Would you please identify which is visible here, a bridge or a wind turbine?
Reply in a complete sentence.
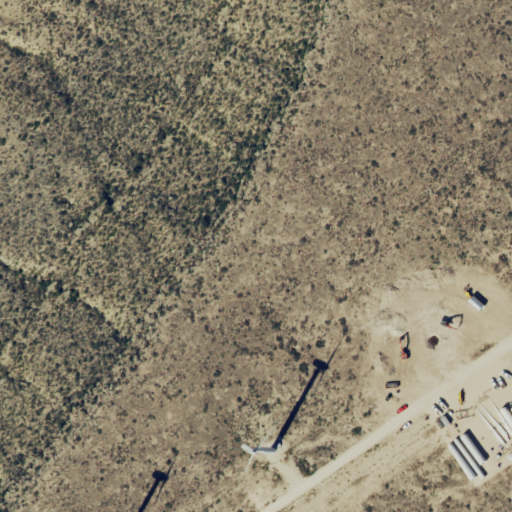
I can see a wind turbine in this picture.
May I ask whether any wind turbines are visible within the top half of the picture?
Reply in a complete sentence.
No, the scene shows no wind turbine within the top half of the picture.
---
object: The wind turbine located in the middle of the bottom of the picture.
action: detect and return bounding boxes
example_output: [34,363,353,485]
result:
[239,418,280,492]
